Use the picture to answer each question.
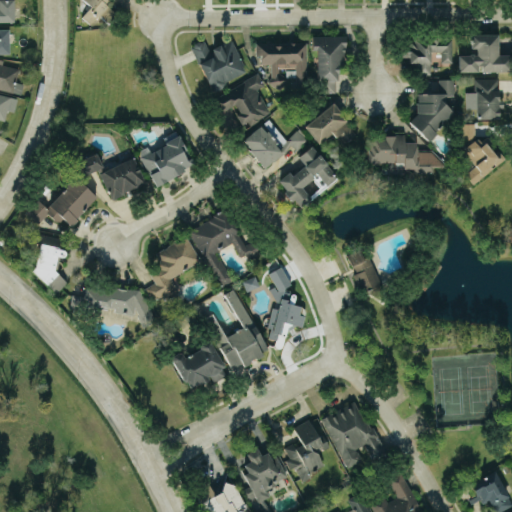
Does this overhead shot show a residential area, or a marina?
residential area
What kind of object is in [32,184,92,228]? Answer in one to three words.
house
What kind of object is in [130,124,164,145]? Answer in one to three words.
swimming pool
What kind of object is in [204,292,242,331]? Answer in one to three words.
swimming pool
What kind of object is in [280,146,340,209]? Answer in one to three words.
house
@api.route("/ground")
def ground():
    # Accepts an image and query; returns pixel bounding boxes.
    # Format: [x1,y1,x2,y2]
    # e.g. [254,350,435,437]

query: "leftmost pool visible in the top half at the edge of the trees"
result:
[89,133,120,160]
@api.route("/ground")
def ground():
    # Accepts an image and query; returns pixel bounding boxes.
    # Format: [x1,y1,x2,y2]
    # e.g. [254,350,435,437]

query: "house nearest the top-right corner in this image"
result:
[460,34,511,73]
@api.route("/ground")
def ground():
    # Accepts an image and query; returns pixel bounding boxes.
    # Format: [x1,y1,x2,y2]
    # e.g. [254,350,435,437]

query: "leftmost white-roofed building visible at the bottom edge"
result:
[204,482,250,512]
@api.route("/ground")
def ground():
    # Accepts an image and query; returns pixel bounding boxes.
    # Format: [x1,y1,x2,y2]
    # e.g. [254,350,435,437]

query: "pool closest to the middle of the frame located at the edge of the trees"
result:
[220,244,249,275]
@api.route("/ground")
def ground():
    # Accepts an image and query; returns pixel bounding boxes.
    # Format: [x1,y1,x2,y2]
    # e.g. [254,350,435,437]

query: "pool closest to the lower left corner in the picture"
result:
[99,316,126,340]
